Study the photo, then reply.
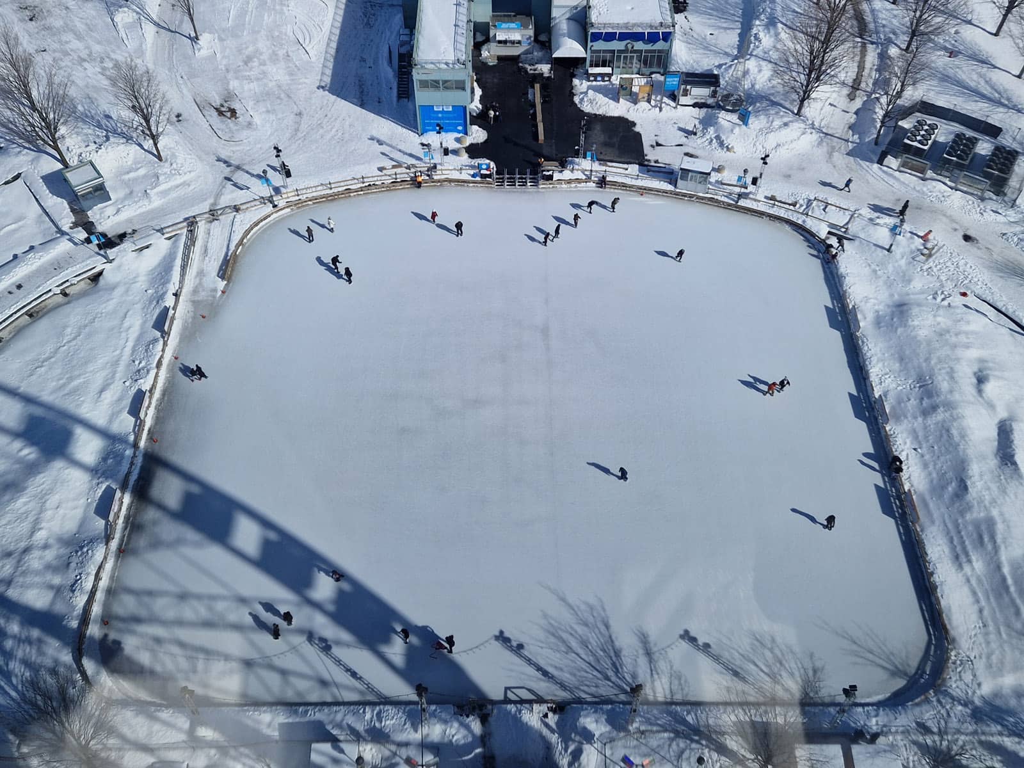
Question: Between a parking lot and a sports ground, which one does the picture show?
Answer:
sports ground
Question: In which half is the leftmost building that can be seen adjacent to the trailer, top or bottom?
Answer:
top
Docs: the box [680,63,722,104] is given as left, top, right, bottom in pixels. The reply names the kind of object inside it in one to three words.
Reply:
trailer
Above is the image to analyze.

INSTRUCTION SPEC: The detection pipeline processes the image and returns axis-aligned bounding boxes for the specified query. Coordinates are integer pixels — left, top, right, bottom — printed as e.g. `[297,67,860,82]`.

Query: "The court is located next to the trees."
[99,182,939,704]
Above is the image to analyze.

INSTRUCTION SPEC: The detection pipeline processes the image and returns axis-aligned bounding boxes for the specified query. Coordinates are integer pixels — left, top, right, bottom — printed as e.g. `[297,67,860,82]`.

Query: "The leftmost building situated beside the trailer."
[584,0,673,73]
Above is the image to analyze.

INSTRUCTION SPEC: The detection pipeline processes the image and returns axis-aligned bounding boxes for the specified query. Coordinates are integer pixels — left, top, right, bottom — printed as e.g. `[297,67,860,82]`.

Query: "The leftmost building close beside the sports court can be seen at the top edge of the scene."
[411,0,474,135]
